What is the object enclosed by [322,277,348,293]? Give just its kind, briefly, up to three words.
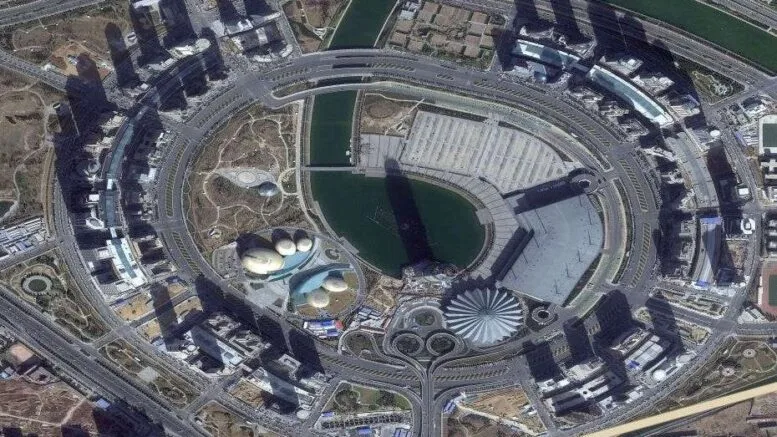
building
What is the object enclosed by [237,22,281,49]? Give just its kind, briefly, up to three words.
building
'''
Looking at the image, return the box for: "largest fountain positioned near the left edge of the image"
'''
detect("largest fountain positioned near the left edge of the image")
[27,278,47,291]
